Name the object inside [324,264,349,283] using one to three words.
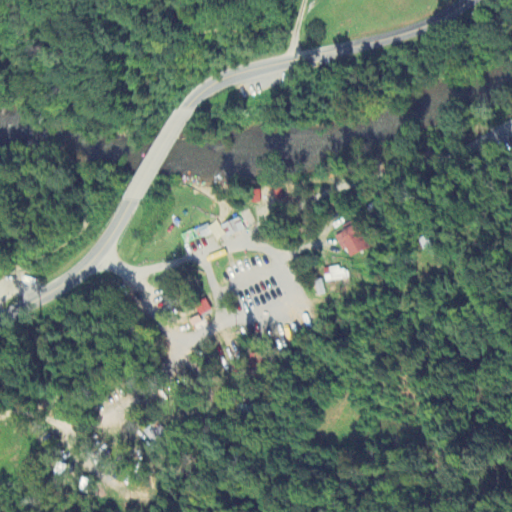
house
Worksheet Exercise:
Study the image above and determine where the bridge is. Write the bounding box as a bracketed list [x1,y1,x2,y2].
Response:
[124,105,192,198]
